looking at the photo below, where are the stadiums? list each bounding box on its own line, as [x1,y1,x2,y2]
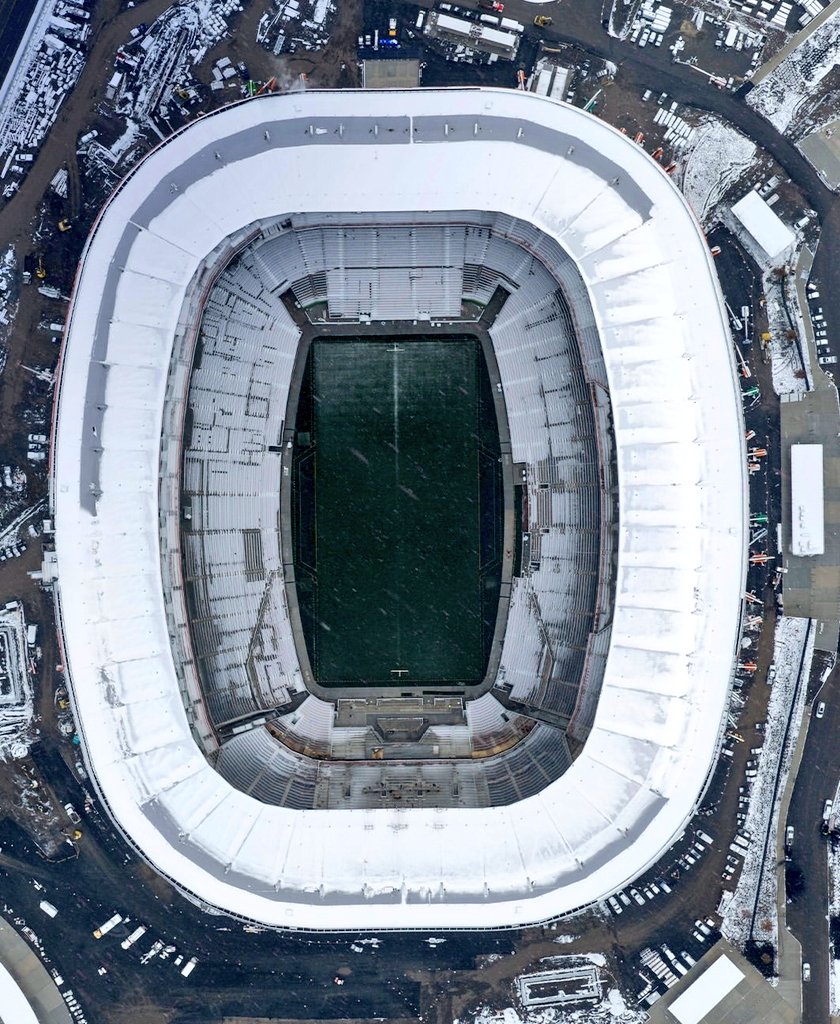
[50,88,749,932]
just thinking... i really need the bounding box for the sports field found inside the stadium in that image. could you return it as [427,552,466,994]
[291,336,503,687]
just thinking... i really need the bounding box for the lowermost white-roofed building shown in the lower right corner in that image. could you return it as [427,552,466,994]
[667,954,745,1024]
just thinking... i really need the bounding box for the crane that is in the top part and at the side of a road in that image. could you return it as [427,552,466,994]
[665,60,742,93]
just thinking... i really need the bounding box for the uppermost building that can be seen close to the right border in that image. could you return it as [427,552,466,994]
[795,116,840,193]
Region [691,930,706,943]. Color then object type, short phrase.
white vehicle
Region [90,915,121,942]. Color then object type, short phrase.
white truck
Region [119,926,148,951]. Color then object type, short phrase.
white truck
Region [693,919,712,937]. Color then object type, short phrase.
white vehicle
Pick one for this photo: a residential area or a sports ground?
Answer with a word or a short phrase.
sports ground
